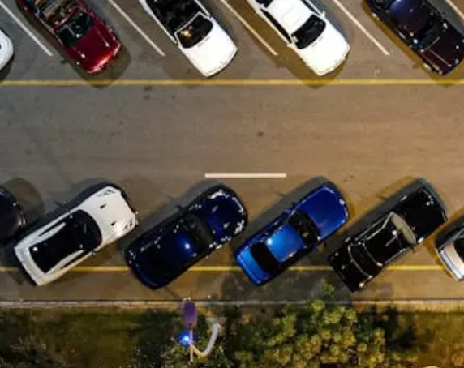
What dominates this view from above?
paved ground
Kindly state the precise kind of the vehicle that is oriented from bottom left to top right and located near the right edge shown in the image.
car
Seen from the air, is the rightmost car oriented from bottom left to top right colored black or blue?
black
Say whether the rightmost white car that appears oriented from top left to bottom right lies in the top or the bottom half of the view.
top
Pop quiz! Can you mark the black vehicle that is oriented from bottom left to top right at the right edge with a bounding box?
[328,185,442,287]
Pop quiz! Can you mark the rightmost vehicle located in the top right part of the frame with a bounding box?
[366,0,464,72]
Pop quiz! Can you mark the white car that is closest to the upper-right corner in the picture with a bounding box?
[249,0,343,73]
